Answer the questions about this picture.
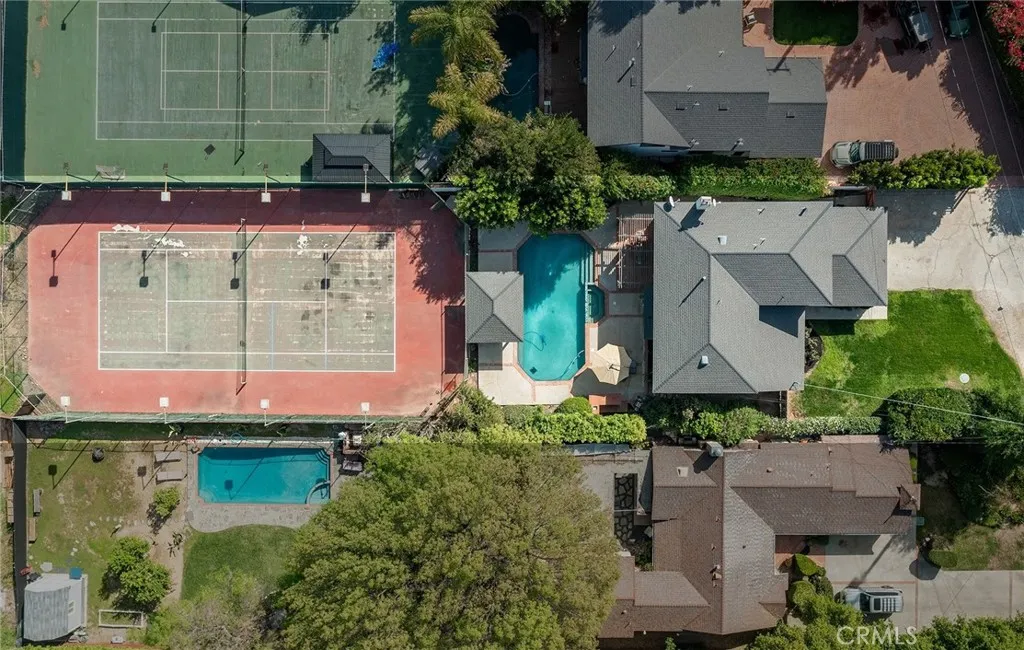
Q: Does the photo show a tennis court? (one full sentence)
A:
Yes, you can see a tennis court in this photo.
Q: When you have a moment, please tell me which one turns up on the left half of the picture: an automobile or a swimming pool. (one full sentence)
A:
The feature located on the left half of the picture is a swimming pool.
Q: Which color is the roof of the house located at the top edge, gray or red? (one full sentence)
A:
In this view, the roof of the house located at the top edge is gray.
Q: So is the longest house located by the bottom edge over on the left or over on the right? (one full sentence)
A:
The longest house located by the bottom edge appears in the right half of the scene.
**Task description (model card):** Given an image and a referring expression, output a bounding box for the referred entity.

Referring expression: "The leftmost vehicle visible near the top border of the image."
[885,0,927,47]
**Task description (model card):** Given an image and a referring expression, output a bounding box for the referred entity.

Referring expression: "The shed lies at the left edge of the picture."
[24,574,88,640]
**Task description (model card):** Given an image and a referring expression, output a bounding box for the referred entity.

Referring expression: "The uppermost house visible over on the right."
[587,0,826,159]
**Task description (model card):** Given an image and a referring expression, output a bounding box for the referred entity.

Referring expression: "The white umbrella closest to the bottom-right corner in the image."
[588,342,640,385]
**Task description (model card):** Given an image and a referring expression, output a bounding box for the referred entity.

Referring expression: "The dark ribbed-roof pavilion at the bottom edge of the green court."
[312,133,392,184]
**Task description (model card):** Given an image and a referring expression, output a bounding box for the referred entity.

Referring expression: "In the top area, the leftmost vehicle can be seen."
[828,137,900,169]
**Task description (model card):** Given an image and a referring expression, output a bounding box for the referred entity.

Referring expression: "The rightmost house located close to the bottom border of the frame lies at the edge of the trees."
[592,438,920,638]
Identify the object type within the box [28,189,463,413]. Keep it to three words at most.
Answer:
tennis court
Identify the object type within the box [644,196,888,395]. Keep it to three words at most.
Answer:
house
